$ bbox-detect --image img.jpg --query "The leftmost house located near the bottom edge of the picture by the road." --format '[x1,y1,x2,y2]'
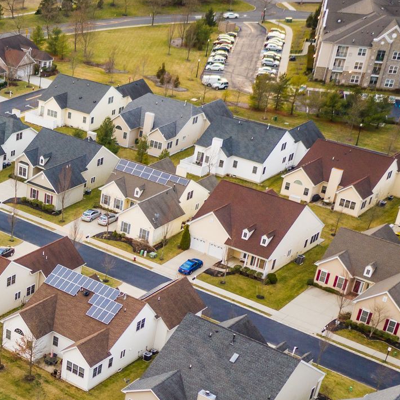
[0,262,207,392]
